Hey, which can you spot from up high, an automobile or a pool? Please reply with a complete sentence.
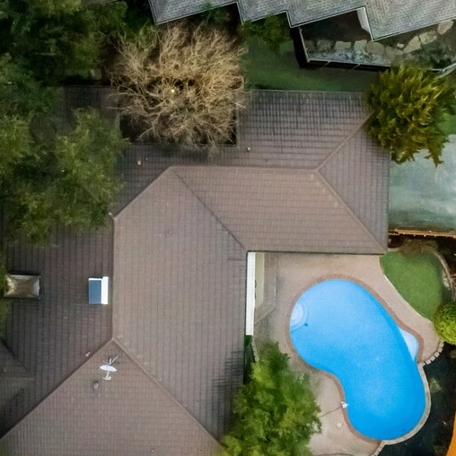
This aerial view contains a pool.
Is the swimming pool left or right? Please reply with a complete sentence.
The swimming pool is on the right side of the image.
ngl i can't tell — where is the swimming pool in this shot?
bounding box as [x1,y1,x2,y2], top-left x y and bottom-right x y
[285,275,431,445]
